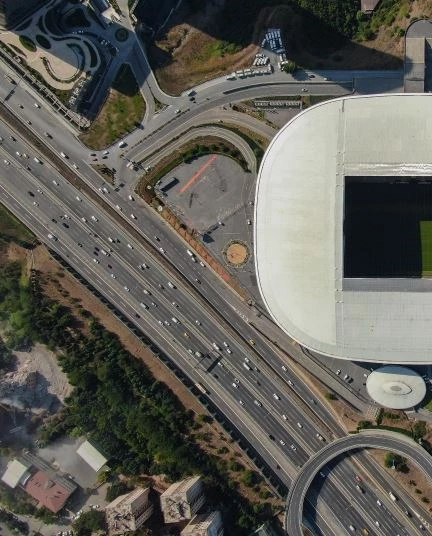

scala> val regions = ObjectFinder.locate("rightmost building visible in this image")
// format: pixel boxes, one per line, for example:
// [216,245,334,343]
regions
[404,20,432,93]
